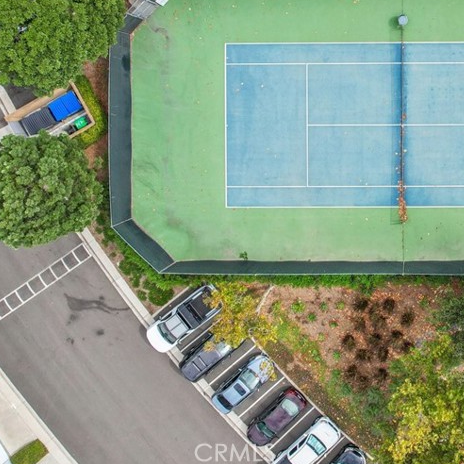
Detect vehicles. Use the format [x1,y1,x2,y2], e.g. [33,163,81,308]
[326,440,369,464]
[147,283,225,351]
[212,350,278,415]
[174,324,245,387]
[248,383,310,446]
[269,413,340,464]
